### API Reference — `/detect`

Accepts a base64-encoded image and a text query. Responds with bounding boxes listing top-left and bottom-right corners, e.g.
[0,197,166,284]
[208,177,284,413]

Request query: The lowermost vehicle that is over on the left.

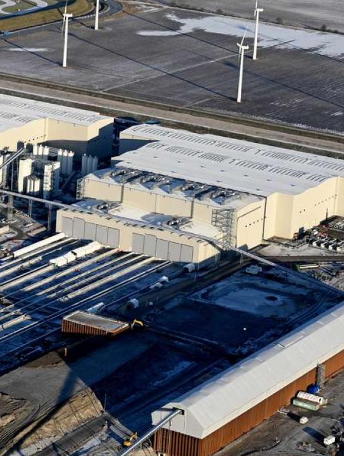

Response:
[120,431,143,447]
